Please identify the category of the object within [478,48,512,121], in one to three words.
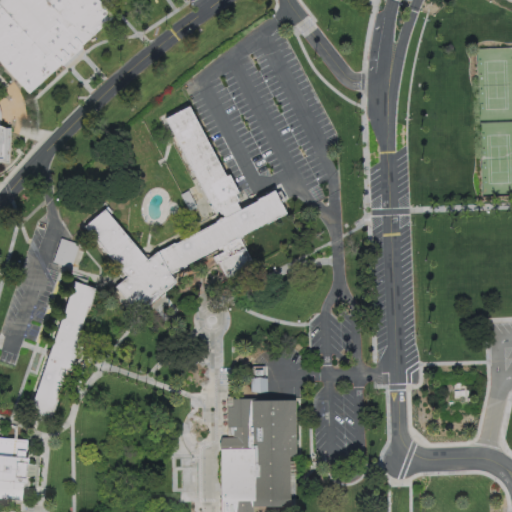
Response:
tennis court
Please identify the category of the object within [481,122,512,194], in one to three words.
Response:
tennis court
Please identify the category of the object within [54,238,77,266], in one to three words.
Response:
building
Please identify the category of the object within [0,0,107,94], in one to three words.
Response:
building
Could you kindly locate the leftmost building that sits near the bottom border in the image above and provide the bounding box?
[0,436,30,501]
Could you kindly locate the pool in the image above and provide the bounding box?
[142,187,178,224]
